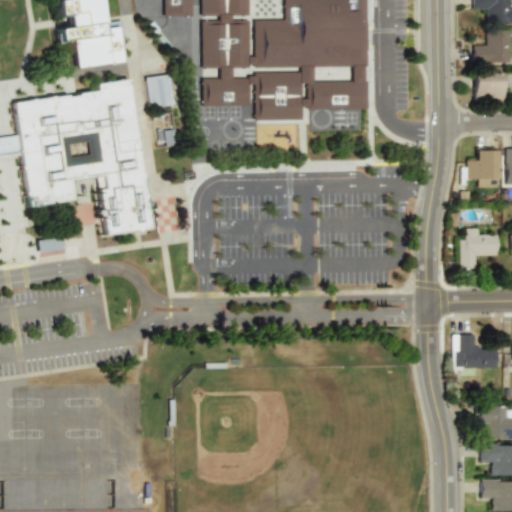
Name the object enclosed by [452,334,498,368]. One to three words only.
house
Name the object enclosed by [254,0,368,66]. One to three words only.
building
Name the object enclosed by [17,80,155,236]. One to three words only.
building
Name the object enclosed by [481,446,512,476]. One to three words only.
house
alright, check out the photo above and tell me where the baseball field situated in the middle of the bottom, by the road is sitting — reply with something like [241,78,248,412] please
[175,368,425,512]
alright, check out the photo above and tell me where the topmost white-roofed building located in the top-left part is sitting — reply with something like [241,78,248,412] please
[58,0,127,69]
